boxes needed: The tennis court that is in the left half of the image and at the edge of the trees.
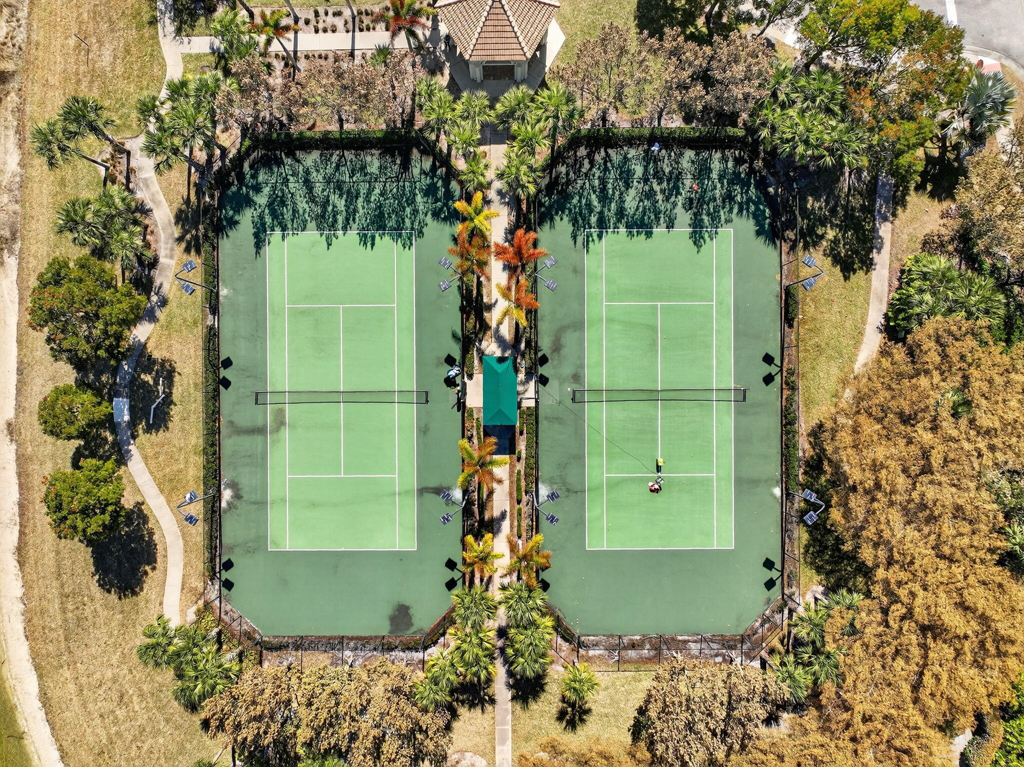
[220,146,465,637]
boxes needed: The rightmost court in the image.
[538,145,782,635]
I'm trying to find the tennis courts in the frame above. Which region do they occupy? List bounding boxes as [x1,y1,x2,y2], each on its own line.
[538,145,782,635]
[220,146,465,637]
